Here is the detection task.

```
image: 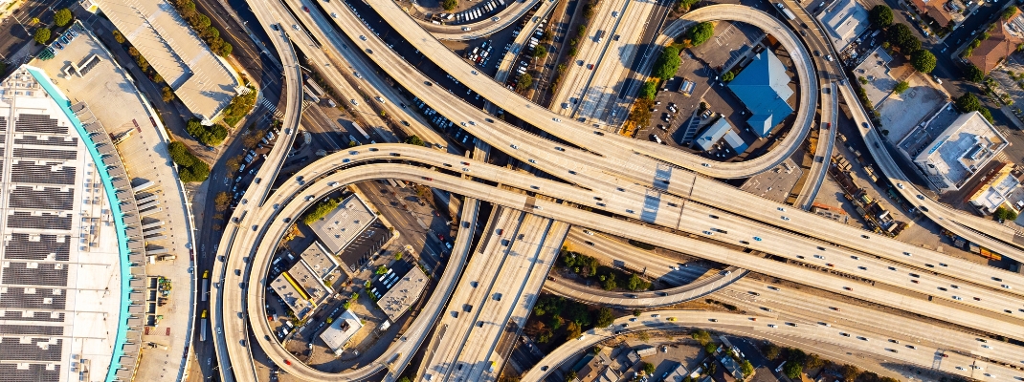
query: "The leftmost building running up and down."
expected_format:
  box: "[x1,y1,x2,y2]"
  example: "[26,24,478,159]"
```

[0,60,137,382]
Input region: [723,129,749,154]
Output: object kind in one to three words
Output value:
building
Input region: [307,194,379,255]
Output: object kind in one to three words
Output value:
building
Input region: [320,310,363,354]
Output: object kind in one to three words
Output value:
shed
